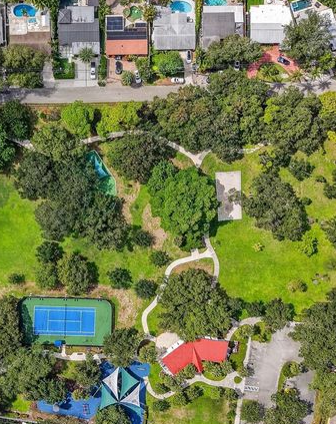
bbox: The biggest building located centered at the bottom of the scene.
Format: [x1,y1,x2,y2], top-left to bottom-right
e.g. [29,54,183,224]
[158,336,229,378]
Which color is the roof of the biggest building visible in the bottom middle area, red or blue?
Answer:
red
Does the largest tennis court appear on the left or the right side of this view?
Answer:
left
